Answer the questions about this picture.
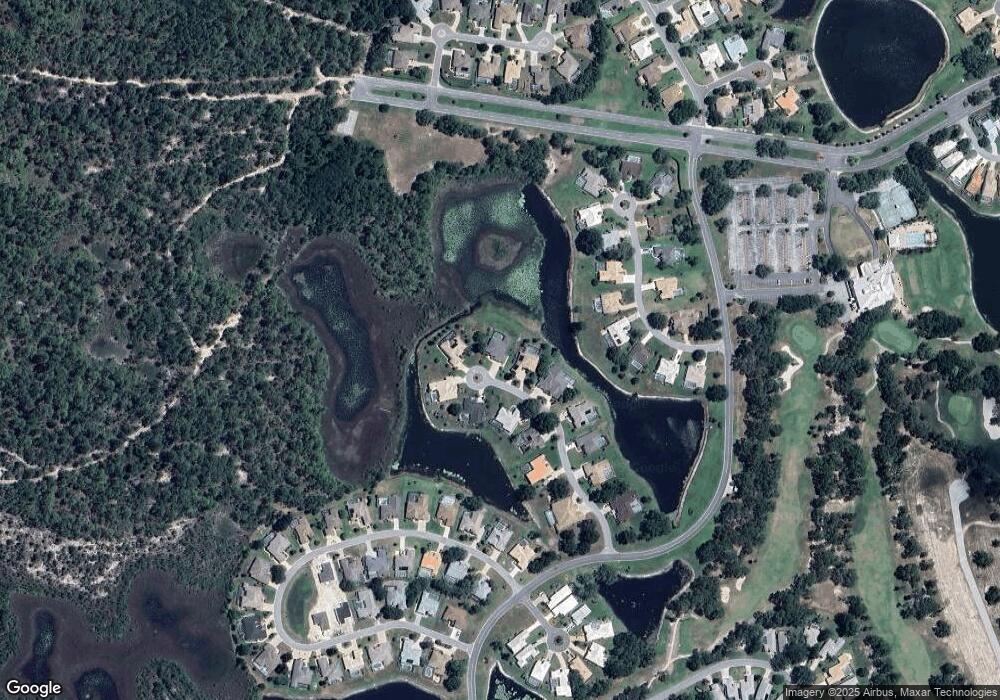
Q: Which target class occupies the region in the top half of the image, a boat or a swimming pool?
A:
swimming pool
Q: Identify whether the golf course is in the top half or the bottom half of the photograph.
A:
bottom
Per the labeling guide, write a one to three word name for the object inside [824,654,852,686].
house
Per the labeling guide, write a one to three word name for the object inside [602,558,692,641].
pond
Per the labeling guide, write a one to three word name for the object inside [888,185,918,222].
tennis court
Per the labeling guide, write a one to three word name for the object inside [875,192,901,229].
tennis court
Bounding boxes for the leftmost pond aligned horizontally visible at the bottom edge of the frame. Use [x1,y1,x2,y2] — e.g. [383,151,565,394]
[261,678,445,700]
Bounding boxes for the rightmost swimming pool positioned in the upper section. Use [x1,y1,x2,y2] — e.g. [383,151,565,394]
[889,221,937,249]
